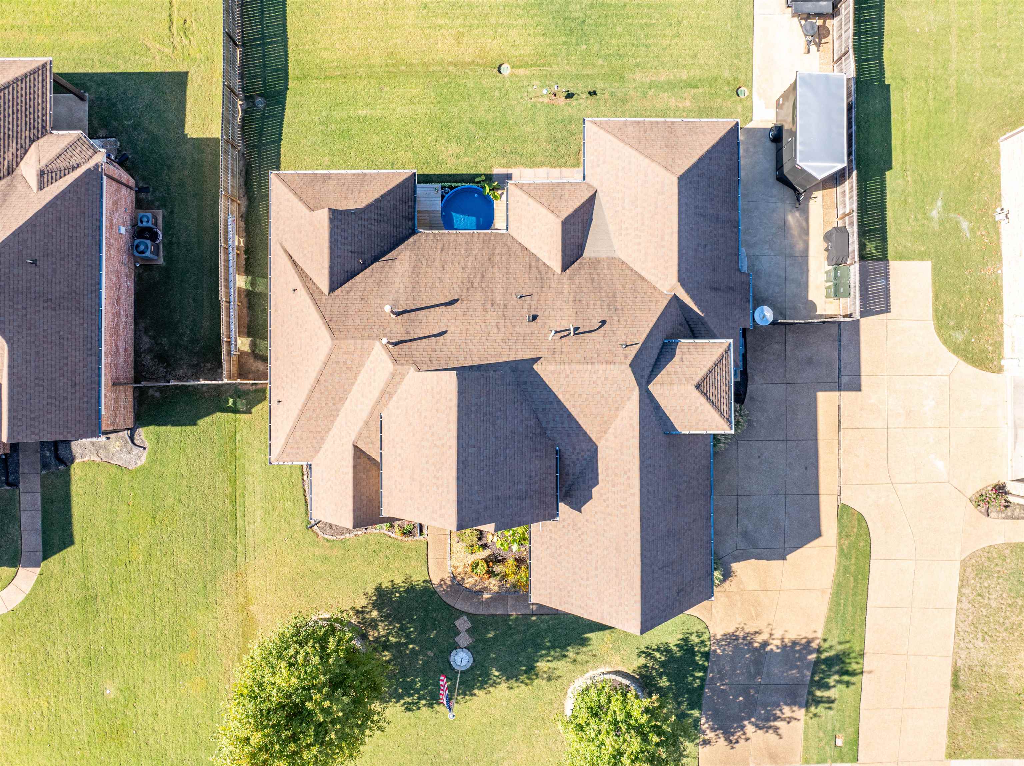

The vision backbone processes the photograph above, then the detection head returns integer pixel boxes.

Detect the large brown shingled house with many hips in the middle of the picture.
[268,117,754,639]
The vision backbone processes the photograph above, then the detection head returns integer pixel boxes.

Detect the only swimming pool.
[441,185,494,228]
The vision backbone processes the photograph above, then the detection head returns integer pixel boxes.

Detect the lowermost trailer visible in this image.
[769,71,847,207]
